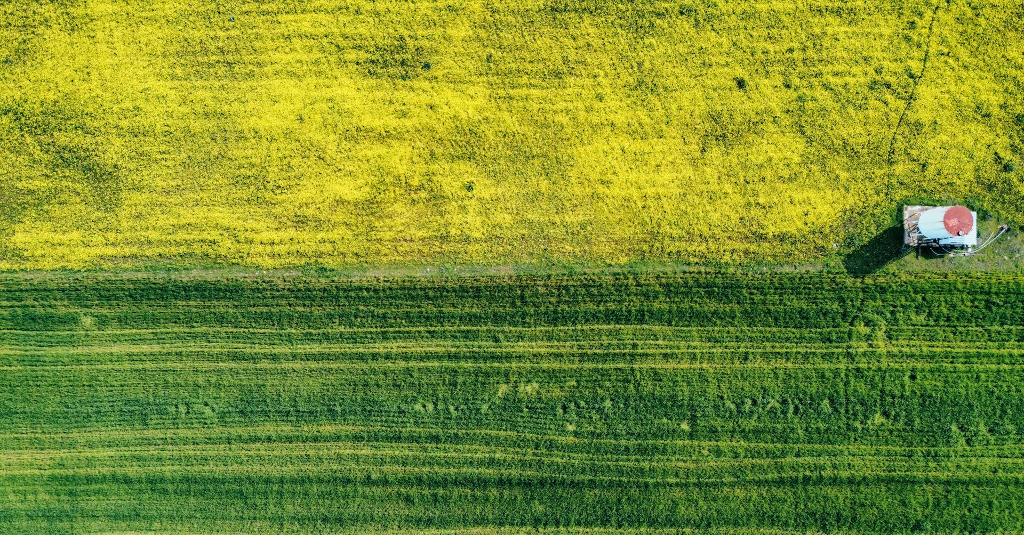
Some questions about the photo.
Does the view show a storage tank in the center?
No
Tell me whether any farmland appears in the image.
Yes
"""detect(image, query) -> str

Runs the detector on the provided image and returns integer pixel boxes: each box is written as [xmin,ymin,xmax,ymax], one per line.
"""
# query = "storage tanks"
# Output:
[905,205,973,243]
